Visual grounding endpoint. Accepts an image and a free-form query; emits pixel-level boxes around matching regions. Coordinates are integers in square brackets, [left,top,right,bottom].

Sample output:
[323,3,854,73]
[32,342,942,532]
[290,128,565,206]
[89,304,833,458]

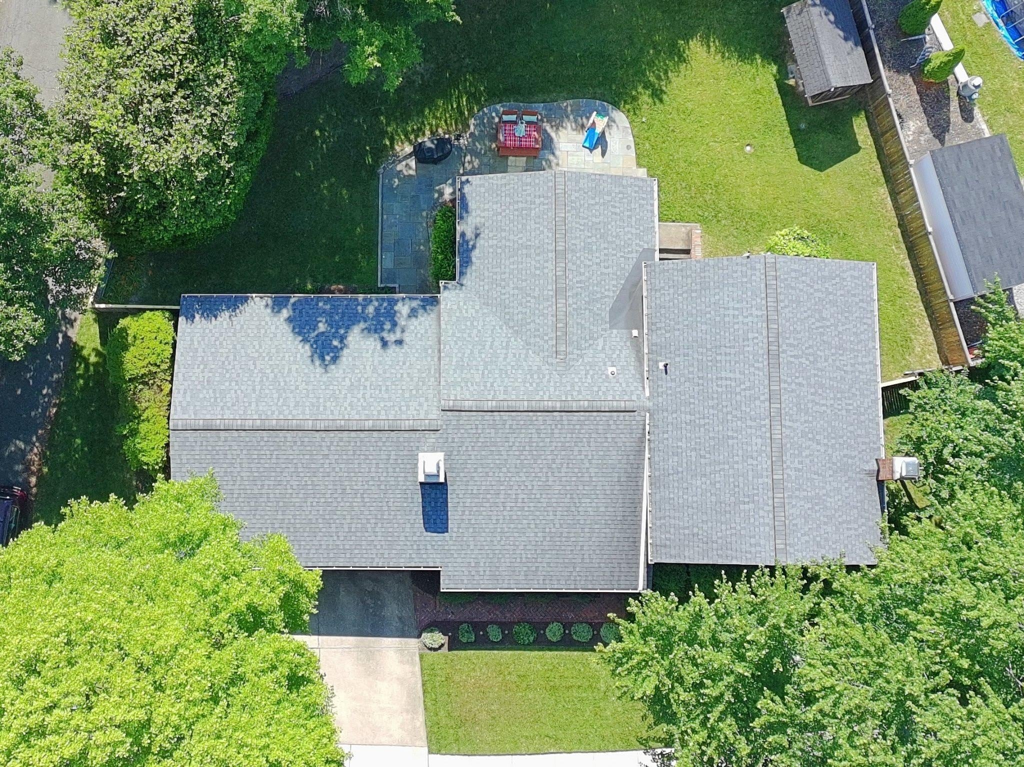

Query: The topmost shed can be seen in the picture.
[778,0,874,111]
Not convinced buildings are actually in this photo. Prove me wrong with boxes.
[905,127,1024,303]
[166,170,923,595]
[778,0,874,111]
